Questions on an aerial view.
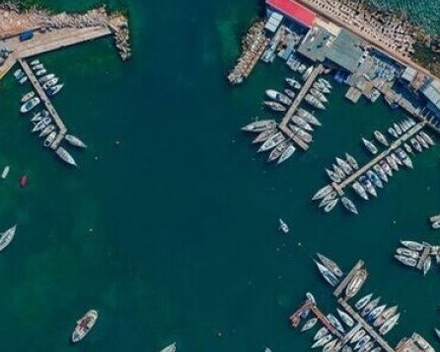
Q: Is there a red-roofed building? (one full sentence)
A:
Yes, a red-roofed building appears in the view.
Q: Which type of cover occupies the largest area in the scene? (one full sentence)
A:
The bulk of the photo consists of water.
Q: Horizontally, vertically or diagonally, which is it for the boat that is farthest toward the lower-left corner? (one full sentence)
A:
In this picture, the boat that is farthest toward the lower-left corner lies diagonally.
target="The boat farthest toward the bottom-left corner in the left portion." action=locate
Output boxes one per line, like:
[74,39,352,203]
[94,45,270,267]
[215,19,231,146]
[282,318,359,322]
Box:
[73,307,100,343]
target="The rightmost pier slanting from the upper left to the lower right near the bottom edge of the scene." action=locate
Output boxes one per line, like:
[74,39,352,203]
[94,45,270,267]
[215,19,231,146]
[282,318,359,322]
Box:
[338,296,393,352]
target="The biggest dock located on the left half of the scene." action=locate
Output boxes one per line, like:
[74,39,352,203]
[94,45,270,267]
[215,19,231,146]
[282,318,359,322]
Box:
[17,59,65,132]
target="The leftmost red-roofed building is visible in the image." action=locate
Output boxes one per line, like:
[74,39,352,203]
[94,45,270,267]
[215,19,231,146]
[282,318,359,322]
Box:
[266,0,318,29]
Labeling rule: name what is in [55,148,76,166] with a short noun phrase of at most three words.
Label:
boat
